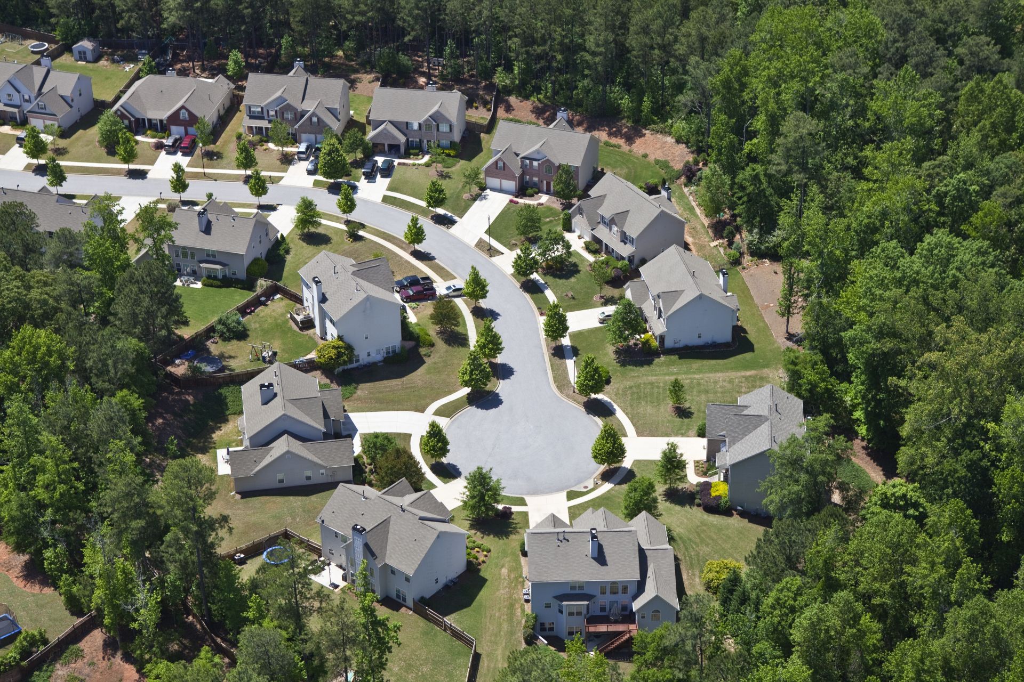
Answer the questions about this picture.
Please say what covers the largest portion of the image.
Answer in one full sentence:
The scene is dominated by trees.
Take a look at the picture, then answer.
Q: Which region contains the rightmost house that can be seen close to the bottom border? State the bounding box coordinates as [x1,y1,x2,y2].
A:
[526,507,680,659]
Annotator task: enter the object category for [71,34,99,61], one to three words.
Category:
shed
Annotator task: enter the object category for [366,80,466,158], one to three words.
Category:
house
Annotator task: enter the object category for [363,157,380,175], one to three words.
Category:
car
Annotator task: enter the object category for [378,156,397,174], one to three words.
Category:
vehicle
